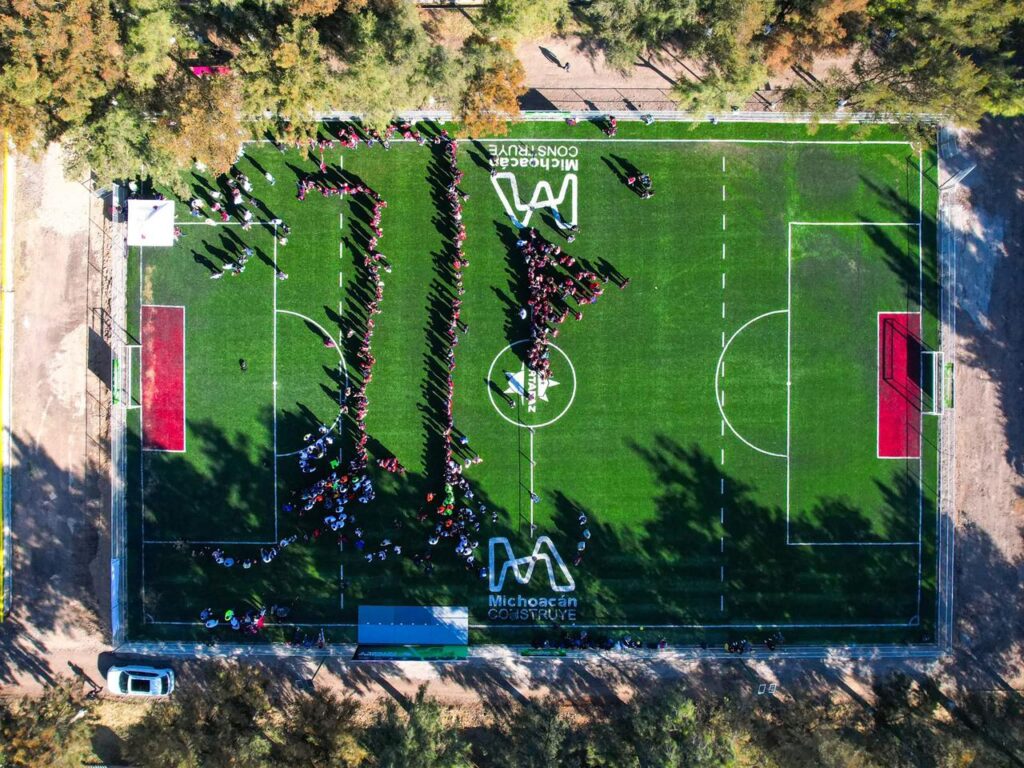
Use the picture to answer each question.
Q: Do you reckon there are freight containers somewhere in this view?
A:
No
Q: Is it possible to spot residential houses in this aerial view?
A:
No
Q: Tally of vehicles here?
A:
1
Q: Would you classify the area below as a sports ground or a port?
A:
sports ground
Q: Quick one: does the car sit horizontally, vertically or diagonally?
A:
horizontally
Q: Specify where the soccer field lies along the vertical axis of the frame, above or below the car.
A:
above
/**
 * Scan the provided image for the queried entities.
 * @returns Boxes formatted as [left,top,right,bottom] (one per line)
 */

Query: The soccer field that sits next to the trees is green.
[127,121,938,644]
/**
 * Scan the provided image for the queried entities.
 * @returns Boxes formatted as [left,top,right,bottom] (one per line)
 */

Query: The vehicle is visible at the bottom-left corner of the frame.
[107,663,178,699]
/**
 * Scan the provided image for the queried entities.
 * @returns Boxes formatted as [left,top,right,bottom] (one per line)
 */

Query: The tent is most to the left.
[127,199,187,251]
